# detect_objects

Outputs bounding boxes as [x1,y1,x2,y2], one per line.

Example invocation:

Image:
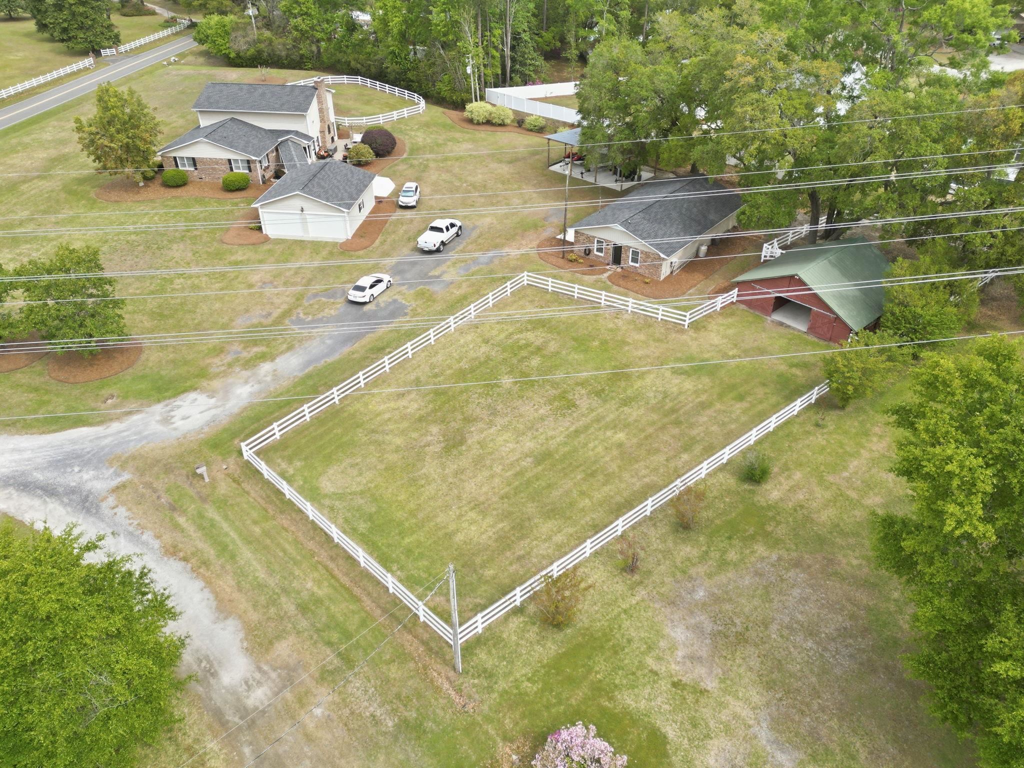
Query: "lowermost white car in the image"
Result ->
[350,275,391,303]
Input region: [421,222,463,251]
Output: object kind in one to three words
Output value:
truck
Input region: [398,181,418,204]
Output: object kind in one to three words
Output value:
car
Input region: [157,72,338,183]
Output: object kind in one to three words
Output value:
house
